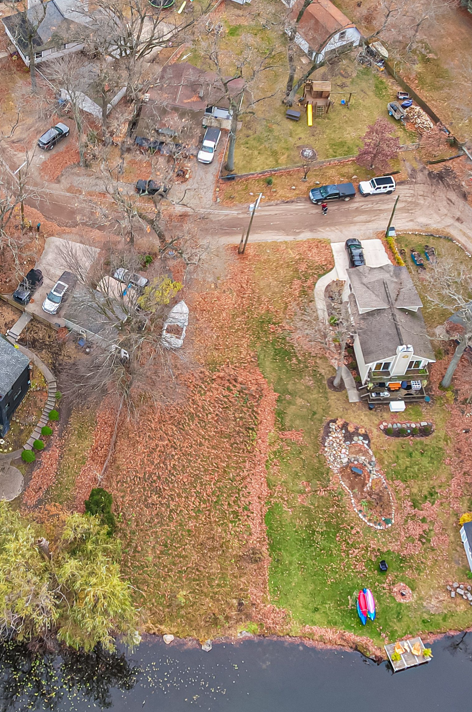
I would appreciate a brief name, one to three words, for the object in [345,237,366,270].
car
